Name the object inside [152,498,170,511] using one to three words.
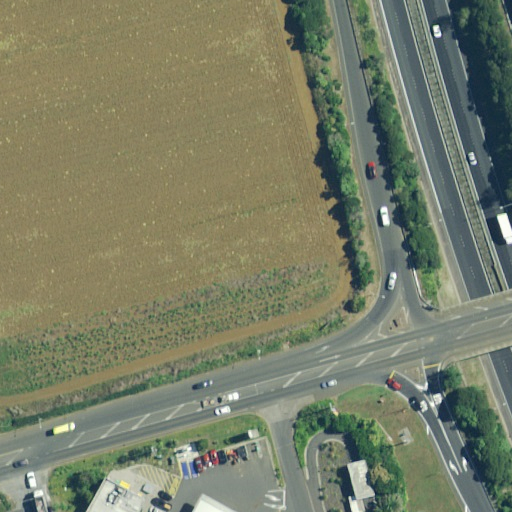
vehicle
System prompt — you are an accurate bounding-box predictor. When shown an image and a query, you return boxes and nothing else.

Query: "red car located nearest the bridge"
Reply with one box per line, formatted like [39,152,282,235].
[386,378,402,391]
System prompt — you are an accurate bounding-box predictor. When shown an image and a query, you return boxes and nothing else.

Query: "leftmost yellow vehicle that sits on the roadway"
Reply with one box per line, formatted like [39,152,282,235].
[52,421,76,435]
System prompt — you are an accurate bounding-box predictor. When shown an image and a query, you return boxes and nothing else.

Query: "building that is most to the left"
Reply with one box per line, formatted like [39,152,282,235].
[86,478,144,512]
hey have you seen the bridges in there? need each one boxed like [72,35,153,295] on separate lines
[438,290,512,364]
